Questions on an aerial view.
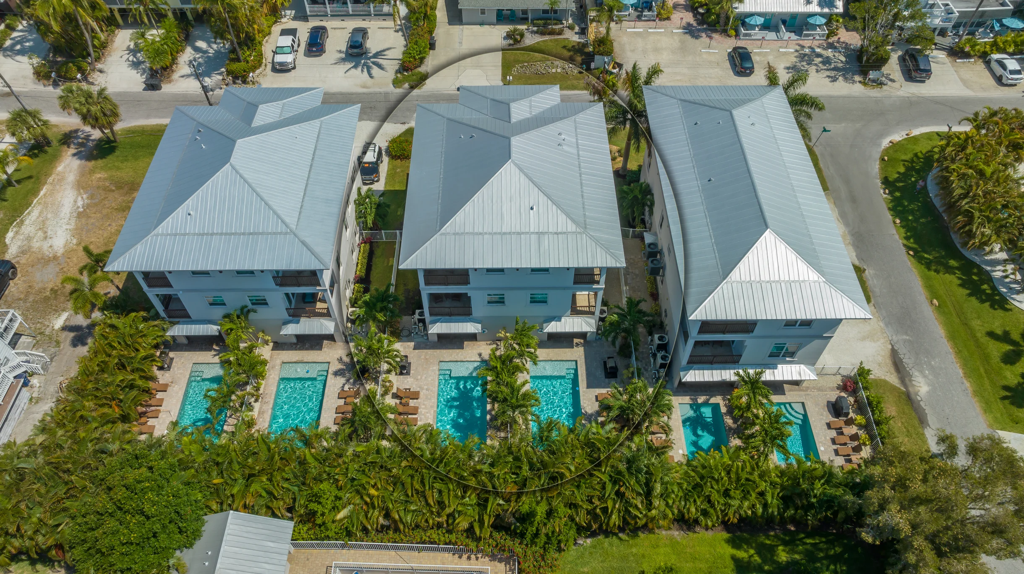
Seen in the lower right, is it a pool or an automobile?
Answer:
pool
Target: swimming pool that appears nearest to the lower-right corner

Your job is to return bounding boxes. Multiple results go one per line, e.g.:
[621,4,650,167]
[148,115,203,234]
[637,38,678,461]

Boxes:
[767,398,829,488]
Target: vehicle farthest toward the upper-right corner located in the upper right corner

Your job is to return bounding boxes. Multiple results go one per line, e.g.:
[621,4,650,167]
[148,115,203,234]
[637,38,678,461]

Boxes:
[990,51,1024,80]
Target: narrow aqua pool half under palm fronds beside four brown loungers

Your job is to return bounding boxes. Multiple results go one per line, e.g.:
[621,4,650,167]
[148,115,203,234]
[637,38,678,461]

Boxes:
[164,359,235,457]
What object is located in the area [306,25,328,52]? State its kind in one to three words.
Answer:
car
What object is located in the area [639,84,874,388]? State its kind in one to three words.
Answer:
house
